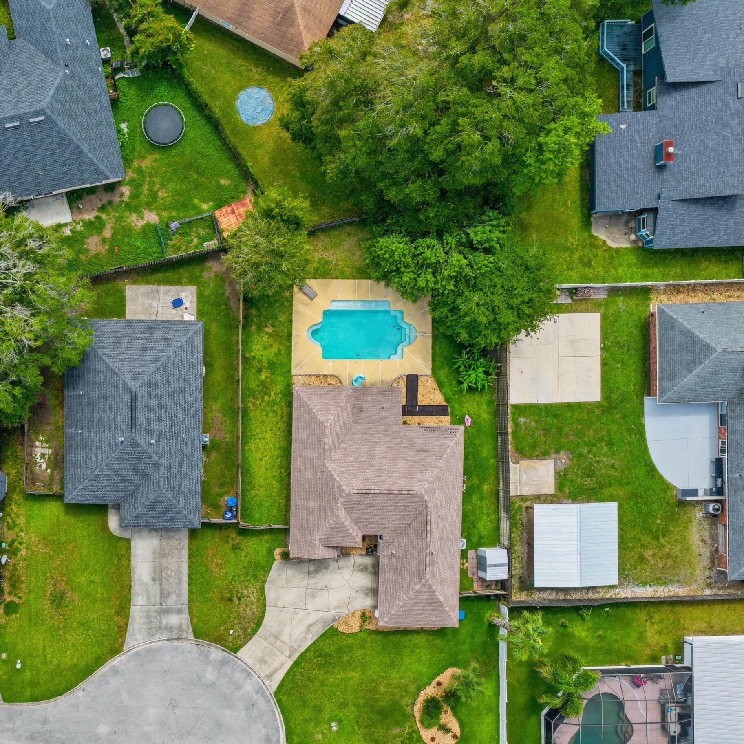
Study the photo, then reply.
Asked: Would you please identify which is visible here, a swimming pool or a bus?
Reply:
swimming pool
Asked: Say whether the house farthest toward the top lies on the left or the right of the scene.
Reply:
left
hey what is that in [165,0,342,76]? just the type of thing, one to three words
house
